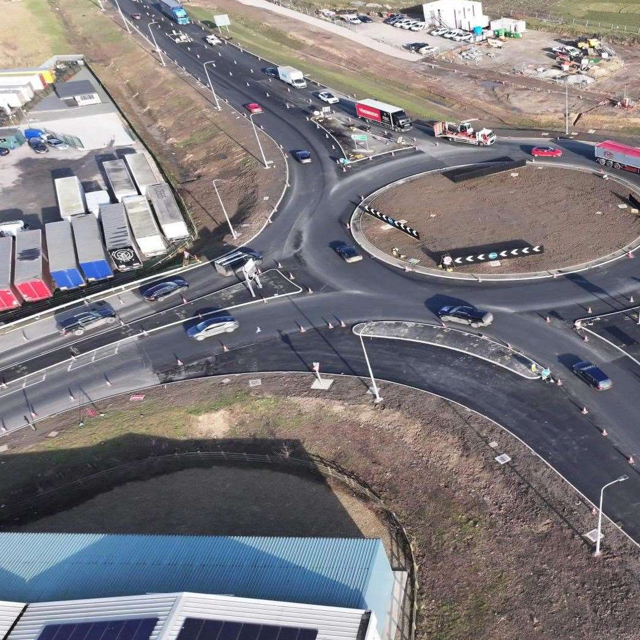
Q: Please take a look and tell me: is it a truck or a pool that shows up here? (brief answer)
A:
truck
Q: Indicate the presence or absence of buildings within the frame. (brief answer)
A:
Yes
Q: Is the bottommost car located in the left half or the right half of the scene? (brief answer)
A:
right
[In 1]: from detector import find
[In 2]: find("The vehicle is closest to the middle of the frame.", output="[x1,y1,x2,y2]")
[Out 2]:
[332,240,363,261]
